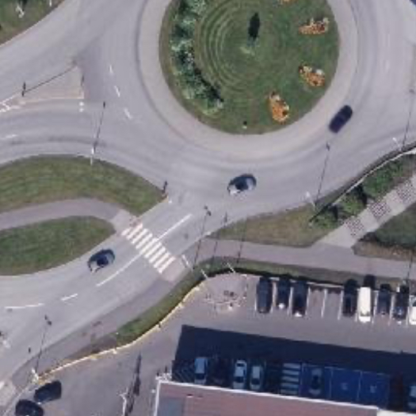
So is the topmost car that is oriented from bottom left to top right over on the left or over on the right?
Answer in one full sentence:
The topmost car that is oriented from bottom left to top right appears in the right half of the scene.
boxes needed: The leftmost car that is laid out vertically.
[194,357,209,386]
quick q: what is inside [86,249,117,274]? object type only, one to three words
car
